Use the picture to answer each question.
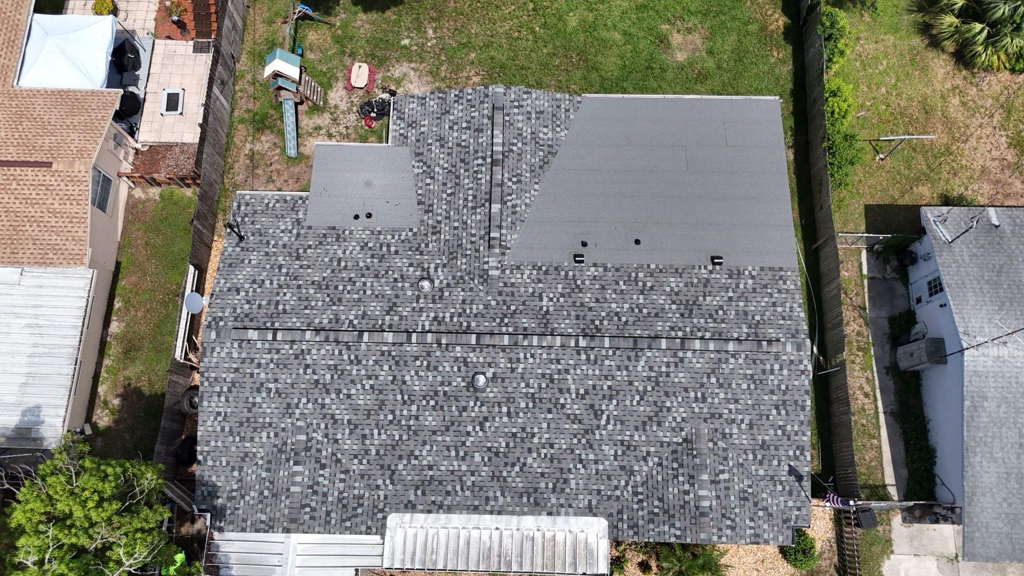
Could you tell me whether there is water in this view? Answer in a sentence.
No, the scene doesn't show any water.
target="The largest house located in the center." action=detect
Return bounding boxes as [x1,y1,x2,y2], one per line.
[193,86,814,549]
